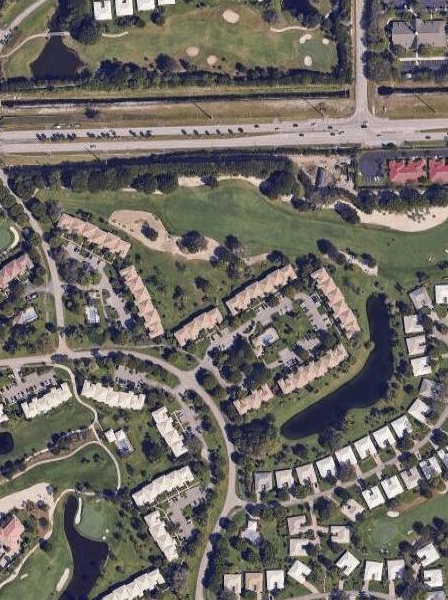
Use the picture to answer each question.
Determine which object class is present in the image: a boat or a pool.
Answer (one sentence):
The image shows a pool.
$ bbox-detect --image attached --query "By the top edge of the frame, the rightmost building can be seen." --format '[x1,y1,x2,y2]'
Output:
[416,17,447,47]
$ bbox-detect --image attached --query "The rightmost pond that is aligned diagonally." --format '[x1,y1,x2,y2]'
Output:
[281,293,392,439]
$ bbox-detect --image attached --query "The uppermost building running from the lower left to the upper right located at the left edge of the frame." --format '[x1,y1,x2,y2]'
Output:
[0,255,35,292]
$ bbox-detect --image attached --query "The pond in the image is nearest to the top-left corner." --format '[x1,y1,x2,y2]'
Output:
[31,29,86,80]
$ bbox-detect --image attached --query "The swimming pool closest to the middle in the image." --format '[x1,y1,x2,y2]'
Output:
[258,326,282,348]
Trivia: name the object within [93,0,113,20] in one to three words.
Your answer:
house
